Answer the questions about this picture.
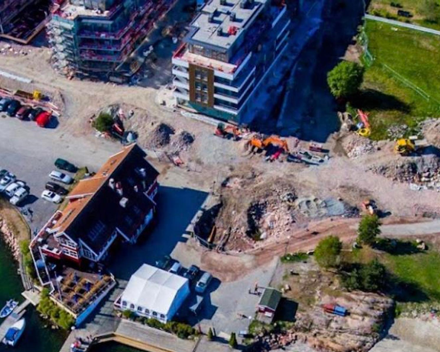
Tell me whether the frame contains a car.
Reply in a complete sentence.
Yes, there is a car in the image.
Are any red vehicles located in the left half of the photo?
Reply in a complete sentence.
Yes, the scene does show a red vehicle in the left half of the photo.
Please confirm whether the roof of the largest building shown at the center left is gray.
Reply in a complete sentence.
No, the roof of the largest building shown at the center left is actually black.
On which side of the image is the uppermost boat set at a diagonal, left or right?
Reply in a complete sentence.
It is on the left.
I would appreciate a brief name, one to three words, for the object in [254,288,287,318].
shed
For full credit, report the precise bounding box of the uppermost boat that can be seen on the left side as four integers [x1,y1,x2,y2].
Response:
[0,298,20,318]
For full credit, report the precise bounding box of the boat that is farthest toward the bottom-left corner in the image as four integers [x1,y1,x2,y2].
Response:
[4,318,24,348]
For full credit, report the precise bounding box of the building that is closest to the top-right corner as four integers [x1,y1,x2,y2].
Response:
[171,0,341,124]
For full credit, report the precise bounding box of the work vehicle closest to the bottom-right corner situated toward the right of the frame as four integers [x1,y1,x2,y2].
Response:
[360,196,385,213]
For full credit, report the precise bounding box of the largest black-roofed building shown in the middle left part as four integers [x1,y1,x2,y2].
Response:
[30,136,166,269]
